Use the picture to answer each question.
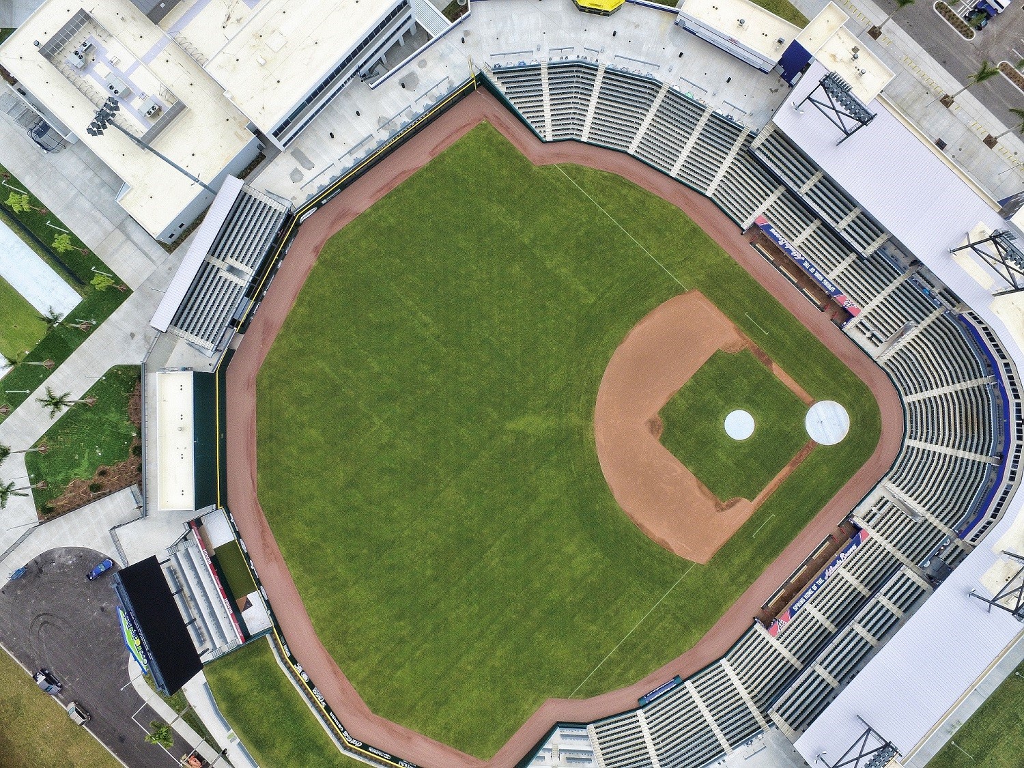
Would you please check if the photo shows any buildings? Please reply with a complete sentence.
Yes, looking at the shot, I can spot a building.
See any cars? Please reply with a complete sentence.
Yes, the image includes a car.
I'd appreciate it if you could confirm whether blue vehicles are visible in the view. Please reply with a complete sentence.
Yes, there's a blue vehicle here.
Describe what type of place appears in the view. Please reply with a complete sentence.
This image shows a sports ground.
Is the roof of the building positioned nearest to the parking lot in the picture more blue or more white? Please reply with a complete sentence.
The color of the roof of the building positioned nearest to the parking lot is white.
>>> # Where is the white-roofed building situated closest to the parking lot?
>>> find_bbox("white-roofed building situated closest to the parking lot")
[158,371,217,511]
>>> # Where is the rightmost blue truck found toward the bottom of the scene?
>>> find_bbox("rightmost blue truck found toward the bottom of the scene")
[85,559,112,582]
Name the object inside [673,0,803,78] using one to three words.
building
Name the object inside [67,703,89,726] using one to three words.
car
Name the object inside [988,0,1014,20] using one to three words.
vehicle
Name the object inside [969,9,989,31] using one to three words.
car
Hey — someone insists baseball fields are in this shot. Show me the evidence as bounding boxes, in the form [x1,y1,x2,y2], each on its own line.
[220,89,904,768]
